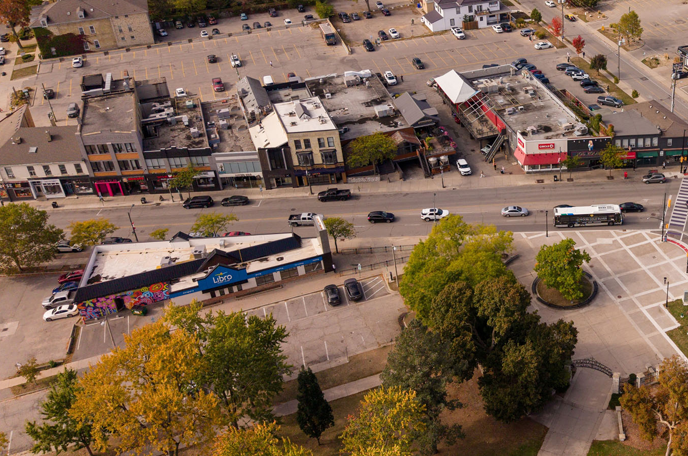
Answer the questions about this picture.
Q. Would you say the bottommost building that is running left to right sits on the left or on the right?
left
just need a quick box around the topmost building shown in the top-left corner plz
[31,0,157,58]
